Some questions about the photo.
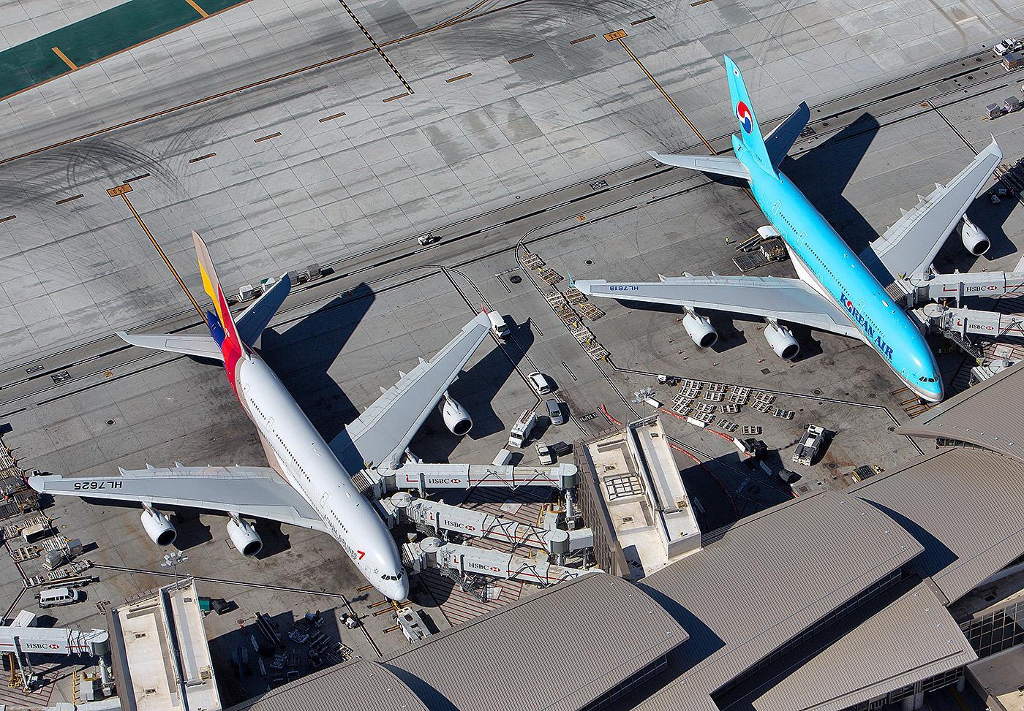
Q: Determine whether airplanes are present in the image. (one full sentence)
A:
Yes, I can see an airplane in this picture.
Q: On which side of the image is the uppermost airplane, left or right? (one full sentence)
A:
You can find the uppermost airplane on the right side of the picture.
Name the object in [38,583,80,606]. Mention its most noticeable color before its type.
white vehicle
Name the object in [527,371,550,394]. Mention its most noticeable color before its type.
white car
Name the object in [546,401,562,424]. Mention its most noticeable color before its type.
gray car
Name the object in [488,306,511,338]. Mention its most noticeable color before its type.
white vehicle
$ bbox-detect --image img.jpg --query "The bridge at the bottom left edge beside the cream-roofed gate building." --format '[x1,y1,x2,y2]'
[0,628,120,702]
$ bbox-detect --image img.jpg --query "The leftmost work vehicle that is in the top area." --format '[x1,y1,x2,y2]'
[416,229,436,246]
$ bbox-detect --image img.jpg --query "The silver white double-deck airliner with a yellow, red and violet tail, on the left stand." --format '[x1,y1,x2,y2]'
[20,228,490,603]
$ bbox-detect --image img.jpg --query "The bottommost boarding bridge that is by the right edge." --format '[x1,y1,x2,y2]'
[969,358,1024,391]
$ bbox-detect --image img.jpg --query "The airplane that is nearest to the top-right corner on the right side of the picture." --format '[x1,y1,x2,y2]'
[566,53,1002,404]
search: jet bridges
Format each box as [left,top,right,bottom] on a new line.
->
[368,491,596,569]
[888,269,1024,338]
[0,628,120,702]
[34,694,131,711]
[904,302,1024,369]
[969,358,1024,391]
[395,536,604,608]
[353,457,583,530]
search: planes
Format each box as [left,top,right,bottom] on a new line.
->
[566,53,1002,404]
[20,228,490,603]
